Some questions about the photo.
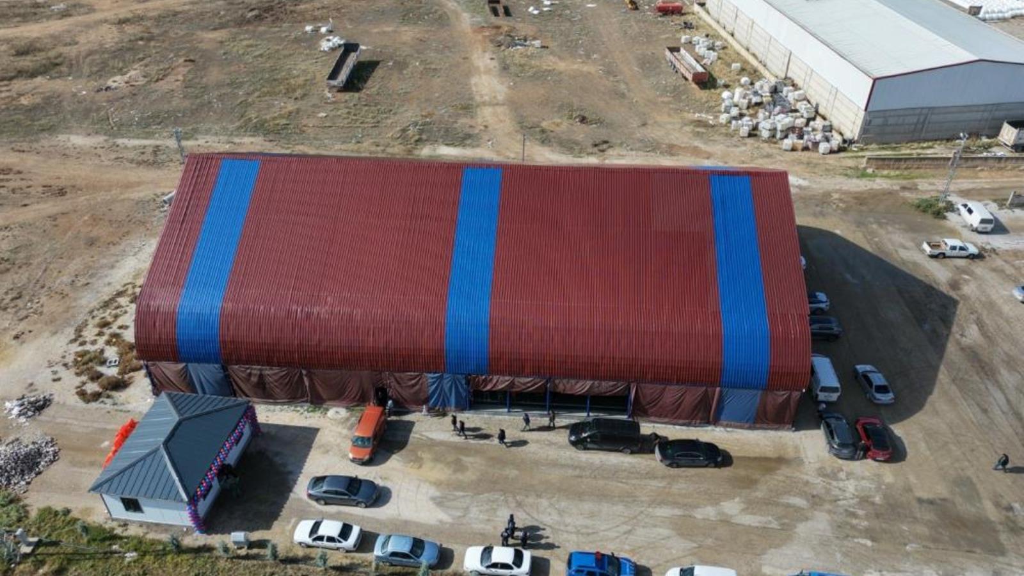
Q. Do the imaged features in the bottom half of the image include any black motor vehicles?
Yes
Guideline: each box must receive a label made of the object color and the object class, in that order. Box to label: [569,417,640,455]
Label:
black vehicle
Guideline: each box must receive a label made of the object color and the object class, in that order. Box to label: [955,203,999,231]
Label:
white vehicle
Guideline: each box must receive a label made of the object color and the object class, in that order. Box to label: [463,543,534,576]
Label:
white car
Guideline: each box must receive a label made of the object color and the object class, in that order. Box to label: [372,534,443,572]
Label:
blue car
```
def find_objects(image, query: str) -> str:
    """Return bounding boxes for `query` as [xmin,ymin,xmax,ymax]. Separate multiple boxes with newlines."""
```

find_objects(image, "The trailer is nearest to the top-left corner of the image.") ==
[326,43,361,92]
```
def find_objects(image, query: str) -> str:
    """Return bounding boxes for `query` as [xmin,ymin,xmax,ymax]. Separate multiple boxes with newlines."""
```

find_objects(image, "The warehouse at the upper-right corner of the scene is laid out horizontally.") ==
[699,0,1024,142]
